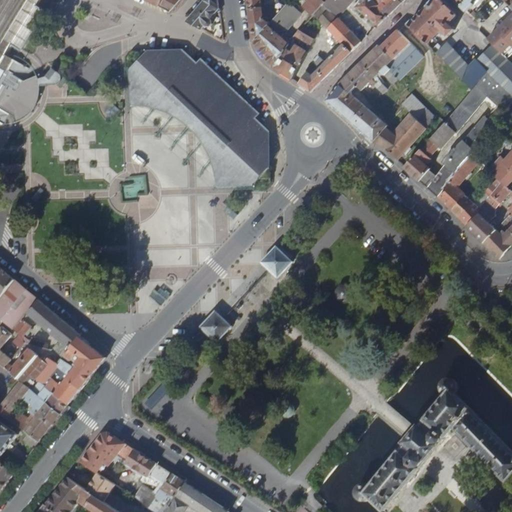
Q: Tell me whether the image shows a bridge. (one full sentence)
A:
Yes, a bridge appears in the view.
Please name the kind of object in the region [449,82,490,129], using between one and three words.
building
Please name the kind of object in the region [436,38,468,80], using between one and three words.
building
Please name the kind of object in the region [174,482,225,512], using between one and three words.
house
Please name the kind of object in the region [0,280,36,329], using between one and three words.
house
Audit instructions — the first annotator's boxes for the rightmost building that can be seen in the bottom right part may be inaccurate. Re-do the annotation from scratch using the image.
[350,380,512,510]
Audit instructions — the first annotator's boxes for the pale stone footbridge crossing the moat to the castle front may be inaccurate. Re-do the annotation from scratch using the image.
[374,400,412,438]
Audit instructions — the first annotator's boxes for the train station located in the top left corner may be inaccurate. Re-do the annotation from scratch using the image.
[0,0,60,126]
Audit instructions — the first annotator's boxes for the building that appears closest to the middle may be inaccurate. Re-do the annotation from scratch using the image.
[260,246,292,278]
